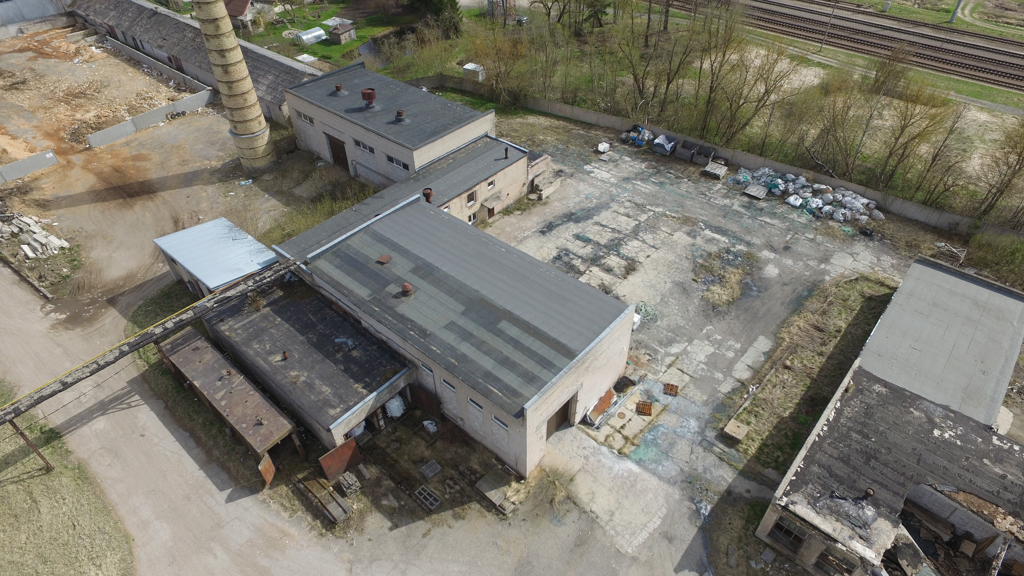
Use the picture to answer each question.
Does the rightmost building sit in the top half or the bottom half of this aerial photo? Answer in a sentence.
The rightmost building sits in the bottom half of the picture.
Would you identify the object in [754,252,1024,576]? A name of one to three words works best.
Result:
building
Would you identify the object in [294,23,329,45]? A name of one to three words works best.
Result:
greenhouse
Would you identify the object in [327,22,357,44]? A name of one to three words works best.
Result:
shed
